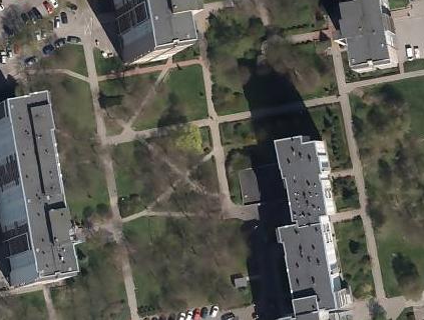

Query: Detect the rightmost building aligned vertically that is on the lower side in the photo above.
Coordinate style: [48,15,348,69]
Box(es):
[266,136,351,320]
